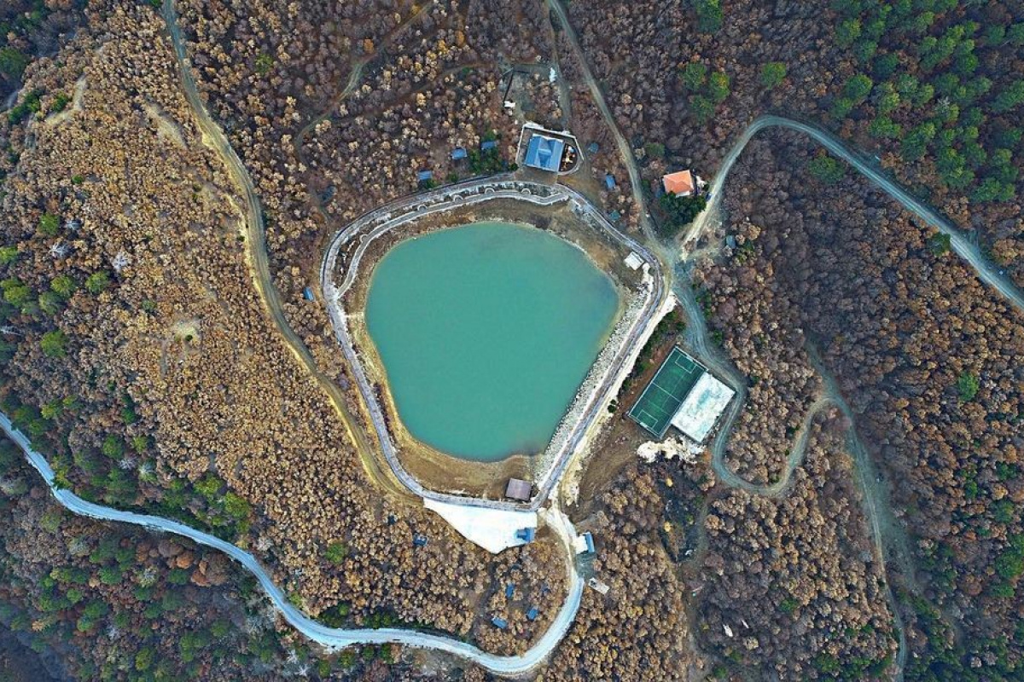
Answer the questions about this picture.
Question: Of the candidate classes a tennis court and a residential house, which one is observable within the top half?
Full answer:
What appears within the top half is a residential house.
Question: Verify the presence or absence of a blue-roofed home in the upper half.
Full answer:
Yes, you'll find a blue-roofed home in the upper half.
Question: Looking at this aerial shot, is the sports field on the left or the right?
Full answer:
It is on the right.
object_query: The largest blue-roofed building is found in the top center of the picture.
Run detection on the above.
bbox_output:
[525,133,565,173]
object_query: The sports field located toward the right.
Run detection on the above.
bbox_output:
[627,345,709,438]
